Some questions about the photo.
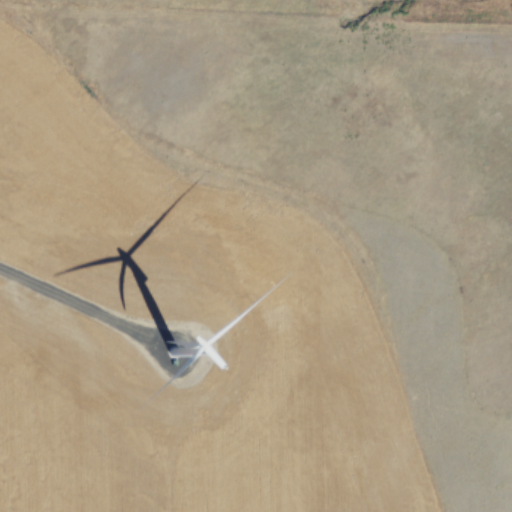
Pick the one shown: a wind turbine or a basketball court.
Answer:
wind turbine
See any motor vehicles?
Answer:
No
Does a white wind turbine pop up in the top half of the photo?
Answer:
No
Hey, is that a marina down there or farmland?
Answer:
farmland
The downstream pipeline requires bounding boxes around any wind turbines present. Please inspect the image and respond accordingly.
[148,276,290,406]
